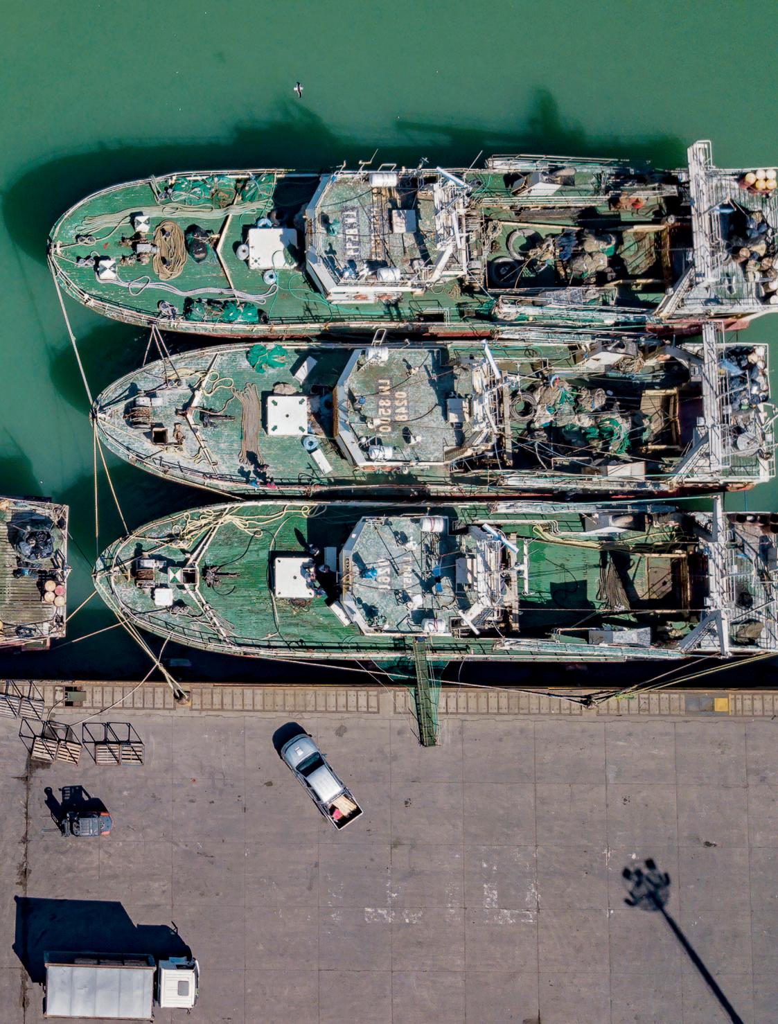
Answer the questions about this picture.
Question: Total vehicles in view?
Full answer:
The count of vehicles comes to 3.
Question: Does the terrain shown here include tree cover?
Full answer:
No, there's no tree cover in this view.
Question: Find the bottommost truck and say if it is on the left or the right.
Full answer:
It is on the left.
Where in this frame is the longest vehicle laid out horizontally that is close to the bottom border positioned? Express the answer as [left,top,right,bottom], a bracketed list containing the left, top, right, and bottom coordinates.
[44,956,205,1019]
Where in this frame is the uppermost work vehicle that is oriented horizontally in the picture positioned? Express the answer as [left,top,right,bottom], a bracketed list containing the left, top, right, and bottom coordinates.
[43,814,109,840]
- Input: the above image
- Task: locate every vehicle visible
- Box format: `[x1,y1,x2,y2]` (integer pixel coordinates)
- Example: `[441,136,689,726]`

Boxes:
[43,814,109,840]
[285,730,364,832]
[44,956,205,1019]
